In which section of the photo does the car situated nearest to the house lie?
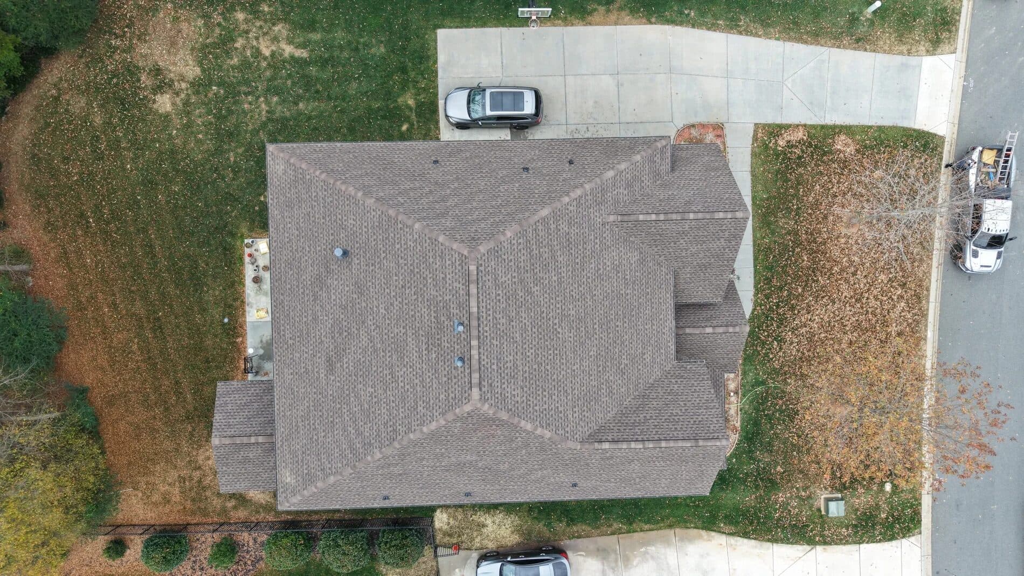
top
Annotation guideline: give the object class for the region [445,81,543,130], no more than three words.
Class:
car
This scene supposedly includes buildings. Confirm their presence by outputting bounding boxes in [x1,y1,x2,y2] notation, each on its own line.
[211,134,750,512]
